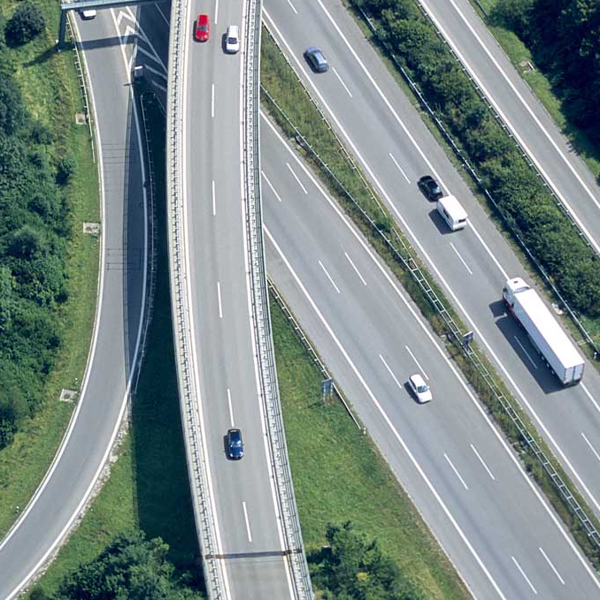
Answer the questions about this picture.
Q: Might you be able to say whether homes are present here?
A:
No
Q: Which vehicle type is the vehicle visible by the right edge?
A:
truck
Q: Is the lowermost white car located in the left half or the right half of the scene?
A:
right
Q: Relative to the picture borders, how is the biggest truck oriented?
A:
on a diagonal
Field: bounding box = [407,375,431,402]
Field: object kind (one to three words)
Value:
car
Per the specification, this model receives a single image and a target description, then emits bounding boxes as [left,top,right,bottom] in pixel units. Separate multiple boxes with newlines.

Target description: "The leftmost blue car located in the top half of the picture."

[306,49,328,73]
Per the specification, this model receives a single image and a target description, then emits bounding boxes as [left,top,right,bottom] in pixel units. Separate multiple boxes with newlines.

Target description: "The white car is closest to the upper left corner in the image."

[84,6,98,18]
